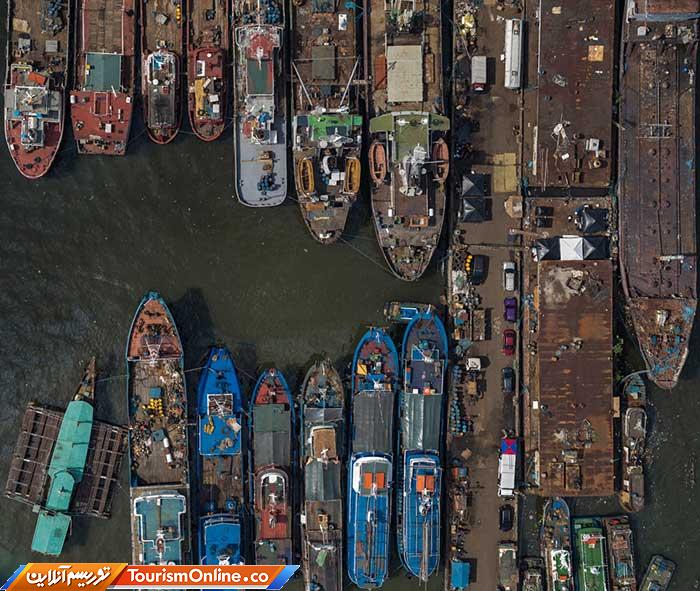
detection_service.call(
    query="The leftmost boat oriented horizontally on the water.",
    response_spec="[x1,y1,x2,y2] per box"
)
[386,302,432,322]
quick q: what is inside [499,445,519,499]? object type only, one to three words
vehicle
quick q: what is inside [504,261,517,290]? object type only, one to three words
vehicle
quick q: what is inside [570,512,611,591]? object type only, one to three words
ship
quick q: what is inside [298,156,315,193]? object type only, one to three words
boat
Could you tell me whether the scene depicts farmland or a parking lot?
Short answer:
parking lot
